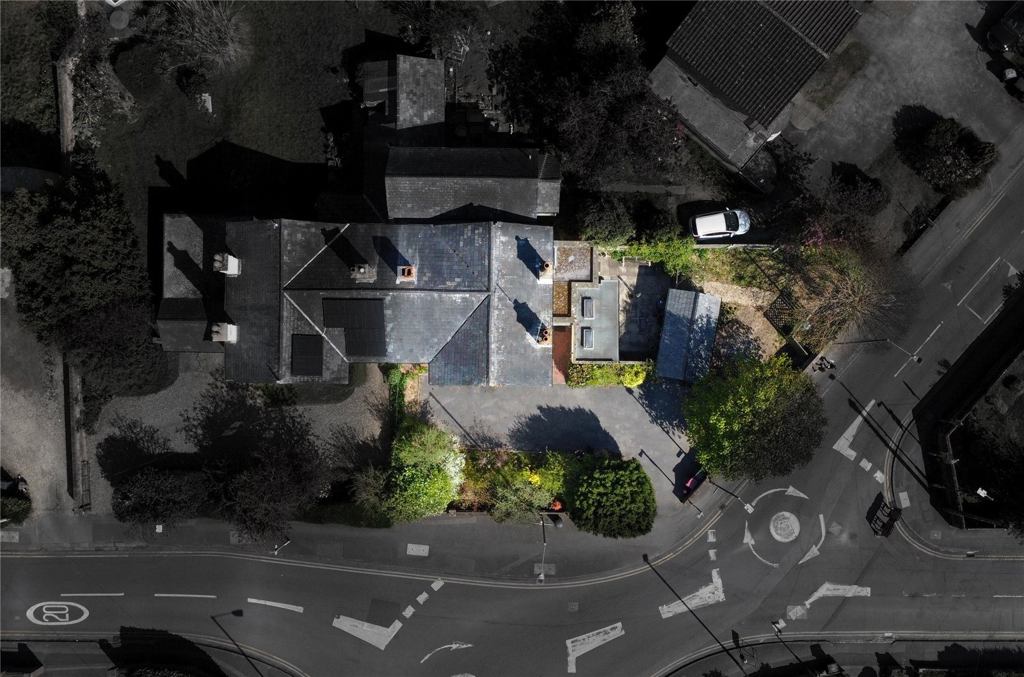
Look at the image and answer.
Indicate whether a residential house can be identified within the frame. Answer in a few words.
Yes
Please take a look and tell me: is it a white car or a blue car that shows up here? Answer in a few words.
white car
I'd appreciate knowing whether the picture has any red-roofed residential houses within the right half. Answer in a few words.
No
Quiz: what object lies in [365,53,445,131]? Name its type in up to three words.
barn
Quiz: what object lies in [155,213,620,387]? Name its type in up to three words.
house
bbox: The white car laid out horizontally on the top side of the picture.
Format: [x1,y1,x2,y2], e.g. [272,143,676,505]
[685,210,749,244]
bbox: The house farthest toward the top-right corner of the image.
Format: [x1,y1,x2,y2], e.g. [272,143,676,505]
[647,0,853,176]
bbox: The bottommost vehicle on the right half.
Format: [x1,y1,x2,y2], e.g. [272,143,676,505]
[676,461,720,503]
